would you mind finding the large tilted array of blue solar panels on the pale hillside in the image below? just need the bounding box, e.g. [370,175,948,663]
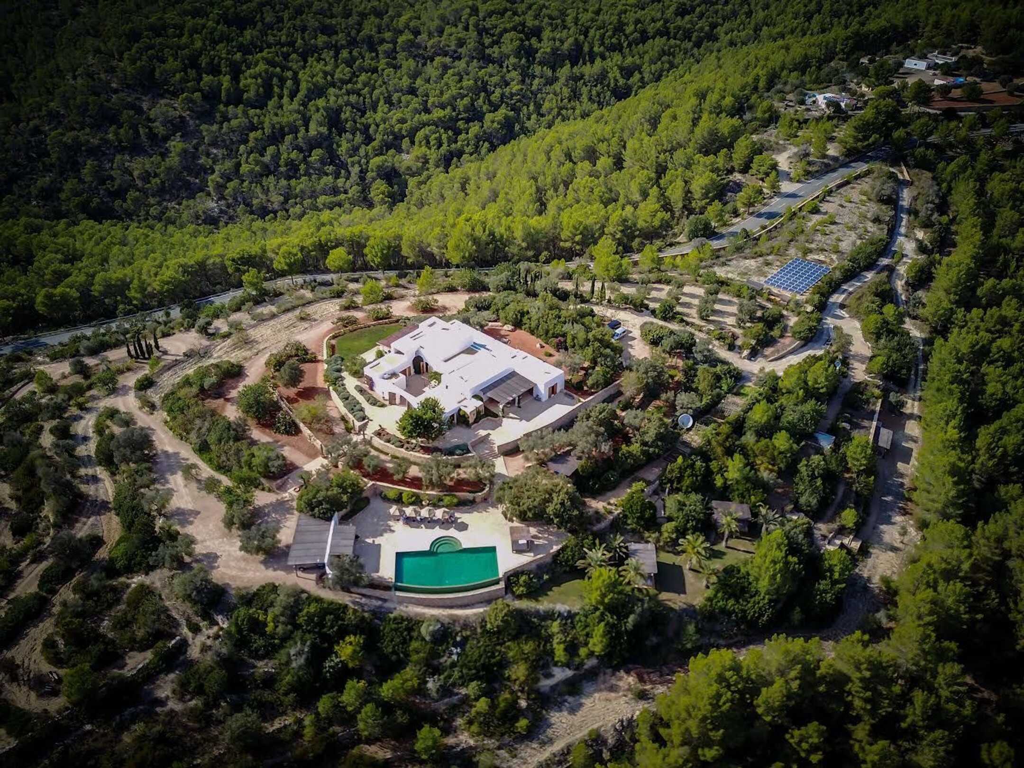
[763,255,832,296]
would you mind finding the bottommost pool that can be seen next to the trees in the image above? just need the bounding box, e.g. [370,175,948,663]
[386,531,508,612]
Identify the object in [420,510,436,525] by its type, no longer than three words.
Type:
umbrella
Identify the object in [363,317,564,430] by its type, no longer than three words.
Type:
house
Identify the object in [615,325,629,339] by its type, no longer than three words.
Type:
car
